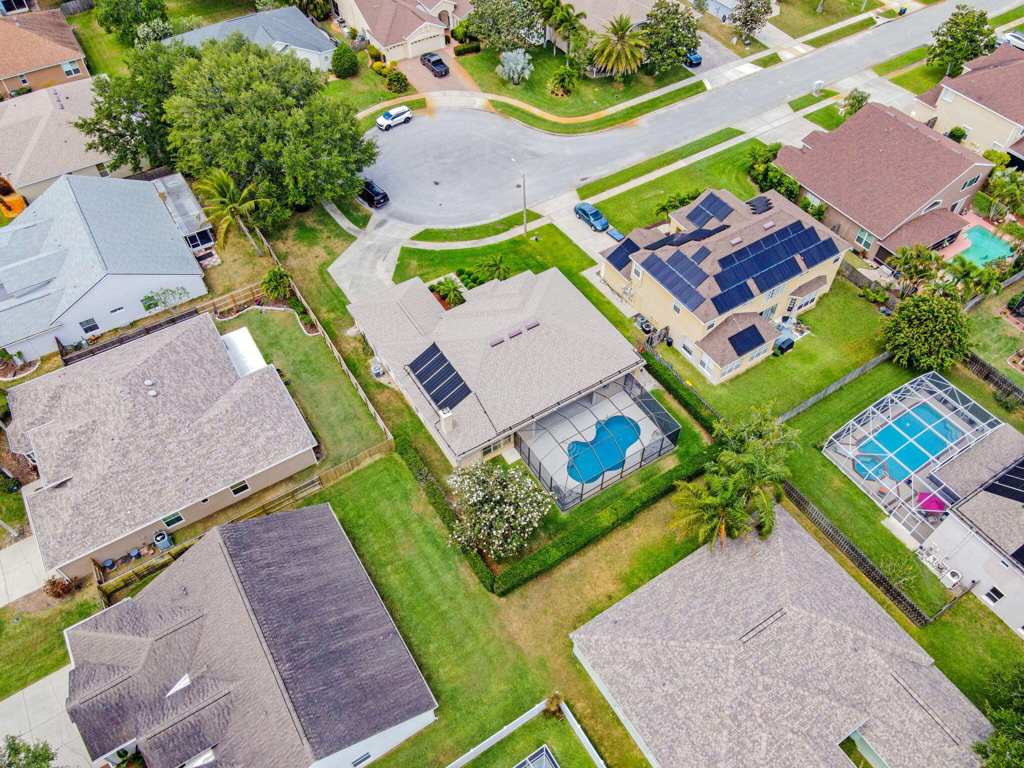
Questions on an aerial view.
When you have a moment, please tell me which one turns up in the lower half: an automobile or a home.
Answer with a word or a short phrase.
home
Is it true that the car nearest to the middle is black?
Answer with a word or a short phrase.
No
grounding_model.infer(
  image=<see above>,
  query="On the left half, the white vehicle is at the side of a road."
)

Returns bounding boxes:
[375,105,413,129]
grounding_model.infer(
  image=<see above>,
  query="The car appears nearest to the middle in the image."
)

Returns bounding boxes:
[573,199,609,232]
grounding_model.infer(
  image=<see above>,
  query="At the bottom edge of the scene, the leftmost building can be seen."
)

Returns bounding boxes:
[55,500,439,768]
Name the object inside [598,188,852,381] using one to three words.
house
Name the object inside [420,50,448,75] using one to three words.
truck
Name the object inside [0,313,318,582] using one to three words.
house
